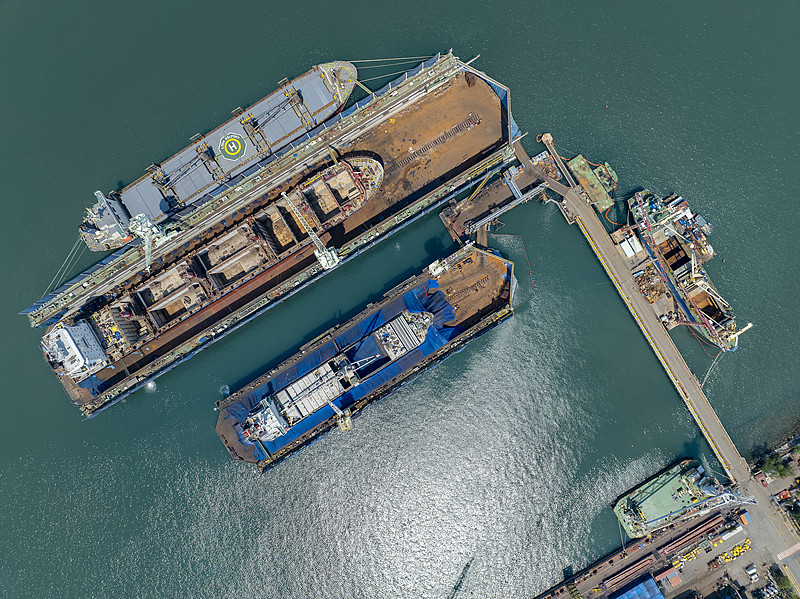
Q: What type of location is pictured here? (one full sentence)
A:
What you see here is a port.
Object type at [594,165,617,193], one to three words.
ship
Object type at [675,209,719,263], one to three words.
ship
